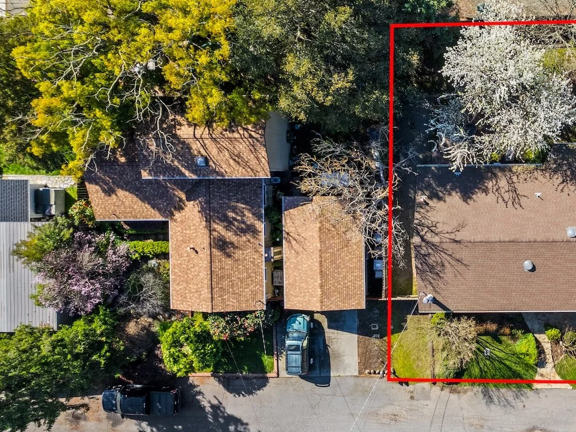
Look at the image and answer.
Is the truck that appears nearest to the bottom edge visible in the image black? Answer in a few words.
Yes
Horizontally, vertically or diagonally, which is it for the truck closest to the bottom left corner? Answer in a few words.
horizontally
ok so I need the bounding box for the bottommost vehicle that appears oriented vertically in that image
[283,313,313,377]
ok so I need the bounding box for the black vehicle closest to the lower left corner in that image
[106,383,183,416]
